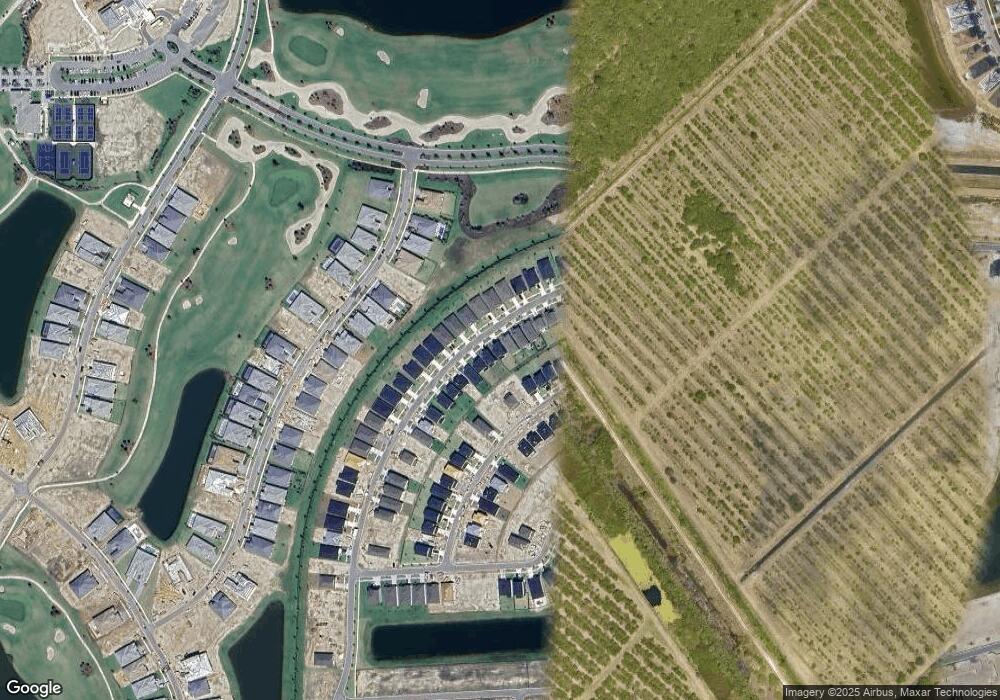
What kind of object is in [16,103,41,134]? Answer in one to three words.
building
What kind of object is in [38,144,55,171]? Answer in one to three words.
basketball court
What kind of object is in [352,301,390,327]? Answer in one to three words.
house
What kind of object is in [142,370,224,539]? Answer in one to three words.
pond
